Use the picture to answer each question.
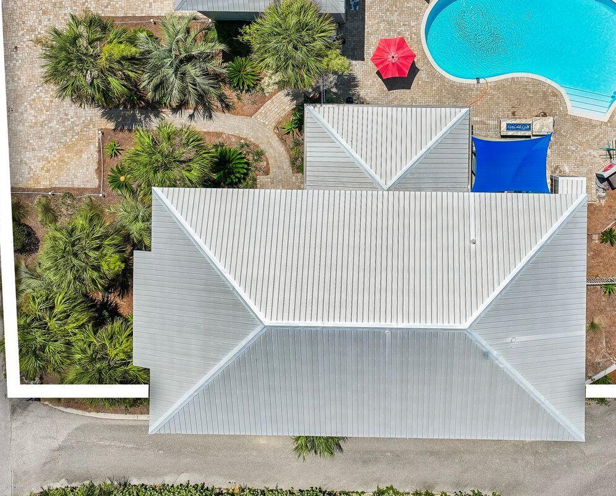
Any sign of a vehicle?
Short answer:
No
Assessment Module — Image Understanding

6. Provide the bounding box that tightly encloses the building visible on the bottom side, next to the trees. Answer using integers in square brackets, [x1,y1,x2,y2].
[134,188,587,442]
